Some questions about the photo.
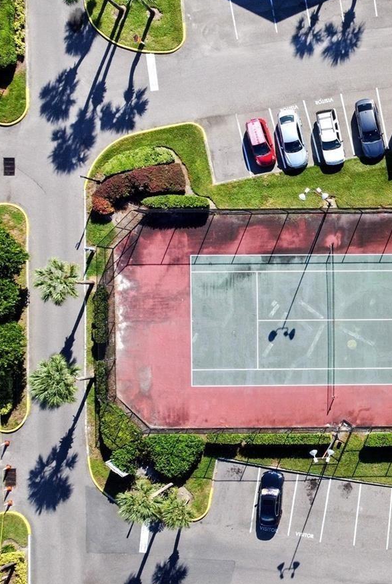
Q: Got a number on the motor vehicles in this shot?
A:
5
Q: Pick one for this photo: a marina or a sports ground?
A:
sports ground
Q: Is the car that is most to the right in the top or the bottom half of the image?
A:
top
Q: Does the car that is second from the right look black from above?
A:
No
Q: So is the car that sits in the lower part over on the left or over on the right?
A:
right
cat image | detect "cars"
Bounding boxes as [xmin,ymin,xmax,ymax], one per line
[255,469,284,527]
[356,99,387,161]
[246,117,279,170]
[277,110,312,170]
[316,108,347,166]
